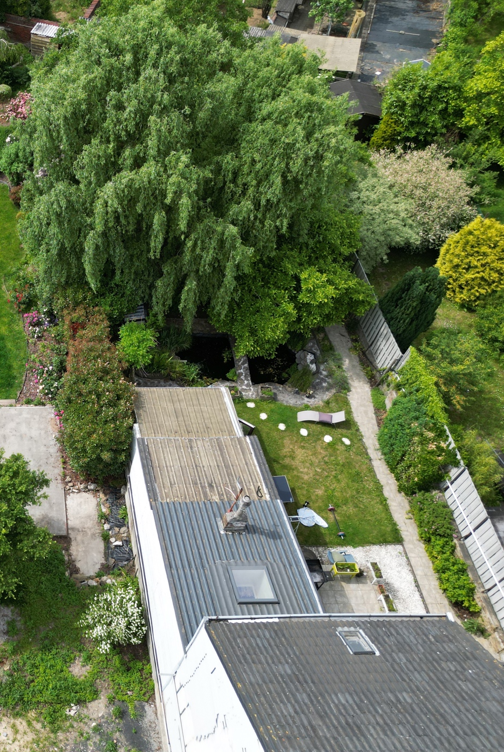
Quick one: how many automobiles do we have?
0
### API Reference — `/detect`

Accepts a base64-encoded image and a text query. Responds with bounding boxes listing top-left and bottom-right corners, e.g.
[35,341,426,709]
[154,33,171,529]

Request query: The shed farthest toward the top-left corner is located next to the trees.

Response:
[29,22,59,65]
